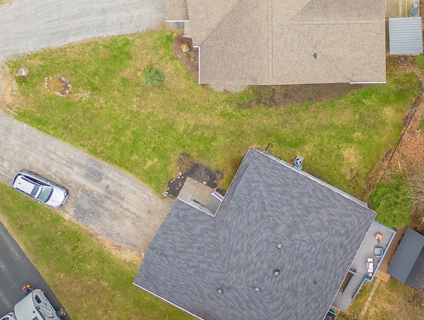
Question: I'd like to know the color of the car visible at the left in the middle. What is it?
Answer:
white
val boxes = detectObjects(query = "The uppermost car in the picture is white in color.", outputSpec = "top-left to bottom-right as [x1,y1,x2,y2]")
[7,168,70,210]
